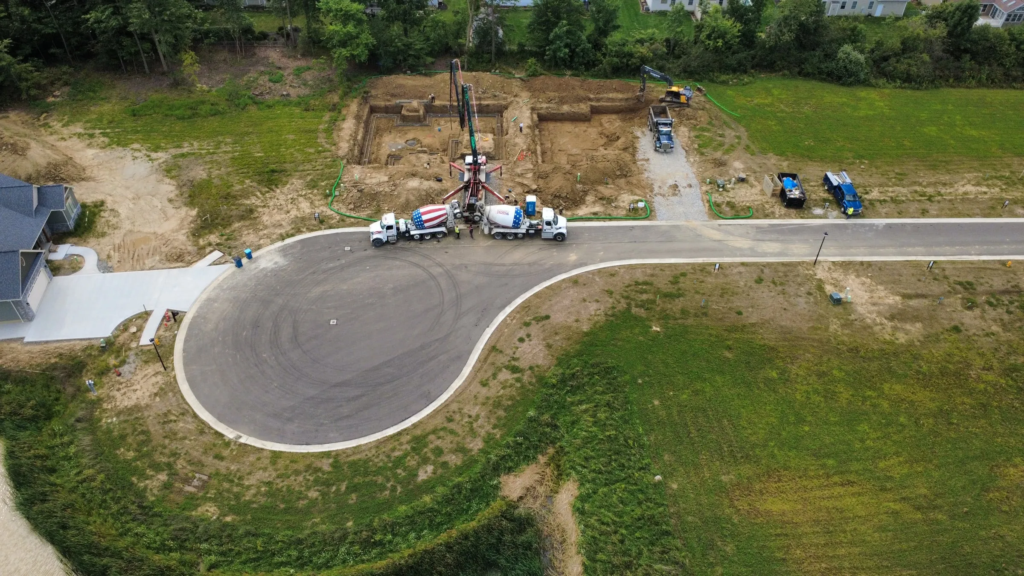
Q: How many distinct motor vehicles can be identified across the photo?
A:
6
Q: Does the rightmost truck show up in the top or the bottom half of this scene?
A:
top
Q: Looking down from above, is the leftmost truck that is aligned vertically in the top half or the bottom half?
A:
top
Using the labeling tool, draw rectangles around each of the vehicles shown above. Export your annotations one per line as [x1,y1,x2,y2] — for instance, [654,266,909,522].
[474,202,569,242]
[827,167,864,211]
[635,65,695,108]
[645,100,672,148]
[442,59,507,216]
[367,200,462,247]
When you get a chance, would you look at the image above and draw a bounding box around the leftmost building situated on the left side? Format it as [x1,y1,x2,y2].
[0,173,81,324]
